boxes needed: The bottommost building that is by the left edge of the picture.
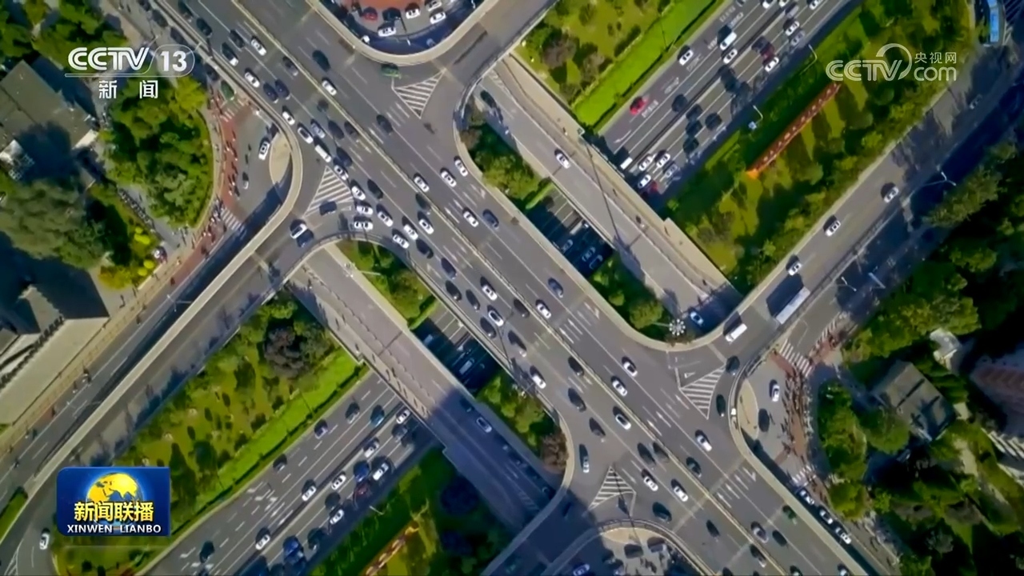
[0,284,109,434]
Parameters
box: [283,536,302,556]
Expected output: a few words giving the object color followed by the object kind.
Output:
blue vehicle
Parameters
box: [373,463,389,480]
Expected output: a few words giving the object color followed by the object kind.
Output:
white car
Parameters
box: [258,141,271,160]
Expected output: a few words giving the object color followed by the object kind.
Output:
white vehicle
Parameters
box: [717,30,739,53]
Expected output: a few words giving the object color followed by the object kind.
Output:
white vehicle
